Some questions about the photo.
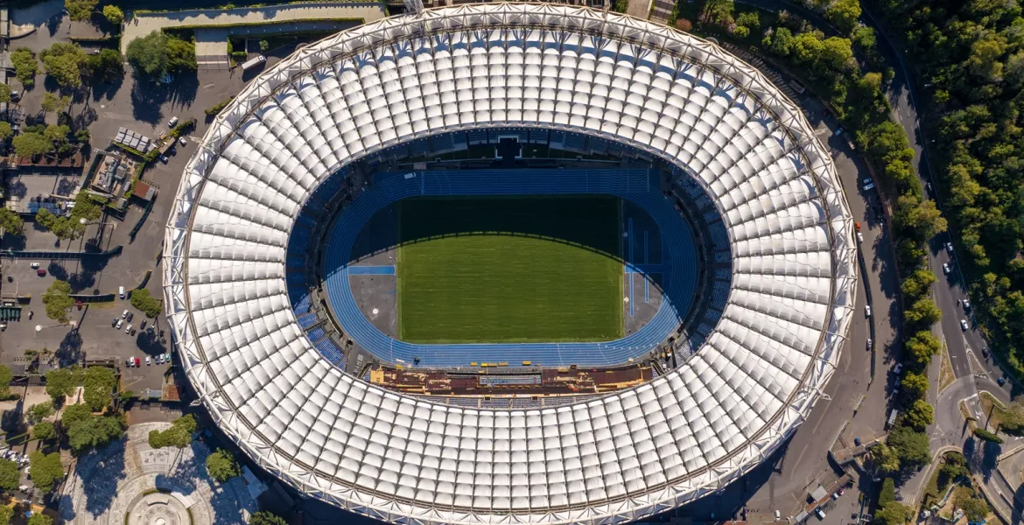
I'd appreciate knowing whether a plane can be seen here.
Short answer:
No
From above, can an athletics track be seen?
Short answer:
Yes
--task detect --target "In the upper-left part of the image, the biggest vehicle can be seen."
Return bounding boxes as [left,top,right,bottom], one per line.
[240,55,265,70]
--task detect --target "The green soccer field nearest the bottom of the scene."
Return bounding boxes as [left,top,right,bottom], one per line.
[398,195,622,342]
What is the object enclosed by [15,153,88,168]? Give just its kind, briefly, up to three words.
building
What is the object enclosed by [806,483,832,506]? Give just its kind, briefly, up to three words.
building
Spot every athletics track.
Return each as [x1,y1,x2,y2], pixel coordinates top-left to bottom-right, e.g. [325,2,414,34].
[325,169,699,367]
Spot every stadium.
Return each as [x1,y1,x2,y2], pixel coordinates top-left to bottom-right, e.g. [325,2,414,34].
[163,2,856,525]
